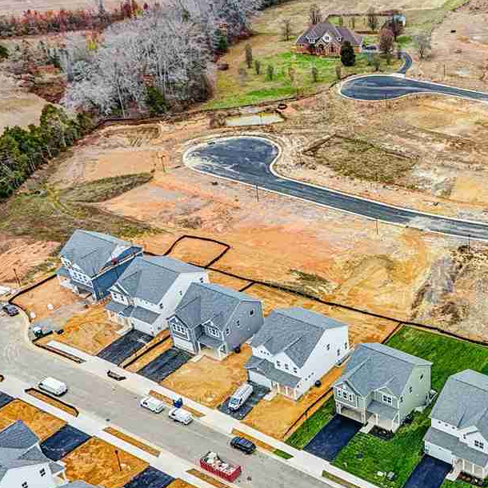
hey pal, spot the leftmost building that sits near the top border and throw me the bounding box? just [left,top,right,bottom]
[295,21,365,54]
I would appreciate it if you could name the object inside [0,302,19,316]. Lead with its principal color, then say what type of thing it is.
gray vehicle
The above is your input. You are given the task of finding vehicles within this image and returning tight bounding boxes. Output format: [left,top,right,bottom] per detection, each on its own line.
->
[223,383,255,413]
[135,392,168,415]
[163,403,196,426]
[0,302,19,316]
[227,437,257,457]
[35,375,66,397]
